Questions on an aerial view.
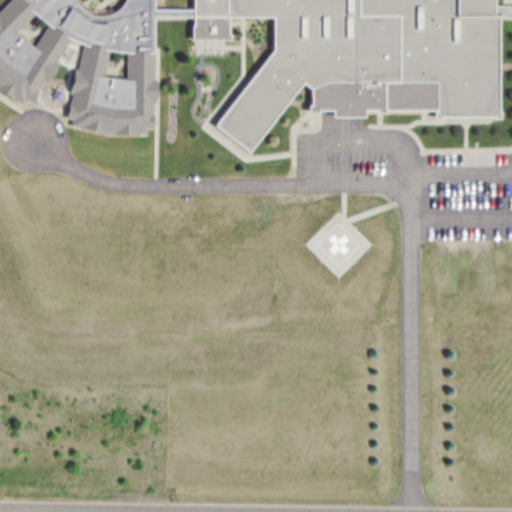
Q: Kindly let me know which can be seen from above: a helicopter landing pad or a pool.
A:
helicopter landing pad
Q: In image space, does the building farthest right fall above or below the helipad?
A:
above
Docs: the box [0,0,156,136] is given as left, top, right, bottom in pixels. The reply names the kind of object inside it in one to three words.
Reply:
house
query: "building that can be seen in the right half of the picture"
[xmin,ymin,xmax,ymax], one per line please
[195,0,504,154]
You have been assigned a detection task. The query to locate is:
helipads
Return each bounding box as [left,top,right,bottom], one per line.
[306,212,372,278]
